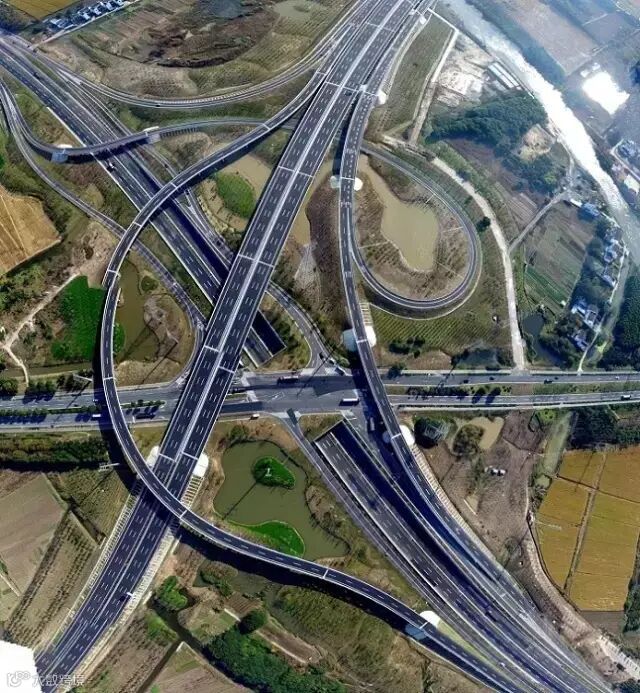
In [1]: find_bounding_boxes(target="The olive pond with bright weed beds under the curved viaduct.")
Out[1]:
[114,259,158,365]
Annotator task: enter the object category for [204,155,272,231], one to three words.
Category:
pond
